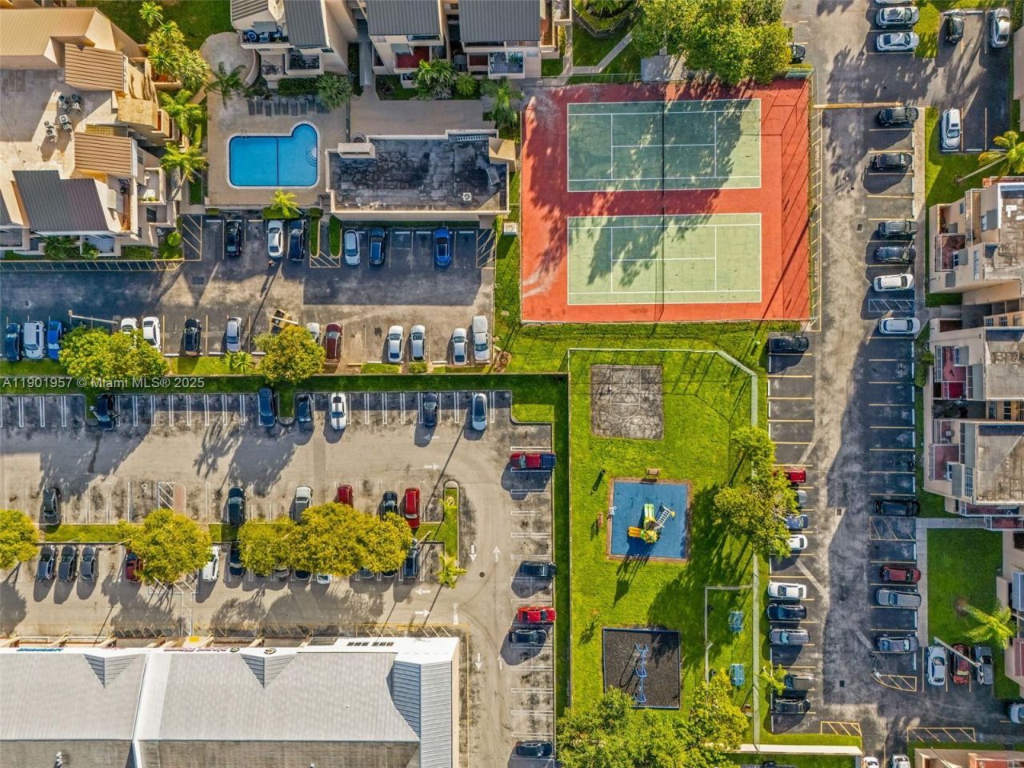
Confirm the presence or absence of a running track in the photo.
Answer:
No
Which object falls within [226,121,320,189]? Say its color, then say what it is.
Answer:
blue swimming pool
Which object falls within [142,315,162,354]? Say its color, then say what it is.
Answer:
white car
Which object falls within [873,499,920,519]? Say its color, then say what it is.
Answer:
black vehicle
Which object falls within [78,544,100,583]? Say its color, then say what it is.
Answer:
gray car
